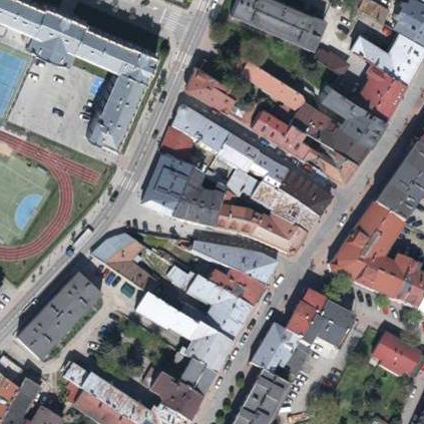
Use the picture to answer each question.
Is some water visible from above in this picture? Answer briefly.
No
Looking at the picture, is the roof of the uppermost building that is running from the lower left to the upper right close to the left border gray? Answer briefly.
Yes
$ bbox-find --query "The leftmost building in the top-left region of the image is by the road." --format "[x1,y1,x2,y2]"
[0,0,158,153]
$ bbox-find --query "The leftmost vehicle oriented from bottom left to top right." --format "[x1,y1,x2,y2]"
[21,297,38,314]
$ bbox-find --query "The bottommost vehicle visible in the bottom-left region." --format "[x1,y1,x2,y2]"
[0,355,23,373]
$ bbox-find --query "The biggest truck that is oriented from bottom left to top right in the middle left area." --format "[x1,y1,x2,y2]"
[68,225,96,255]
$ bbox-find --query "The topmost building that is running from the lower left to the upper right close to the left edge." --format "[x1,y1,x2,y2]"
[17,271,102,360]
